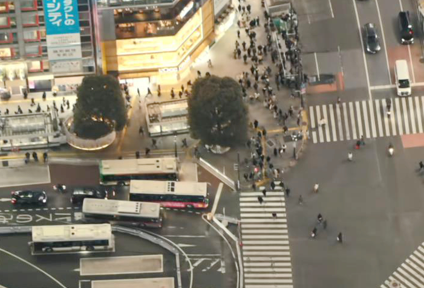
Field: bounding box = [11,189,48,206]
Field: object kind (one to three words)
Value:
car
